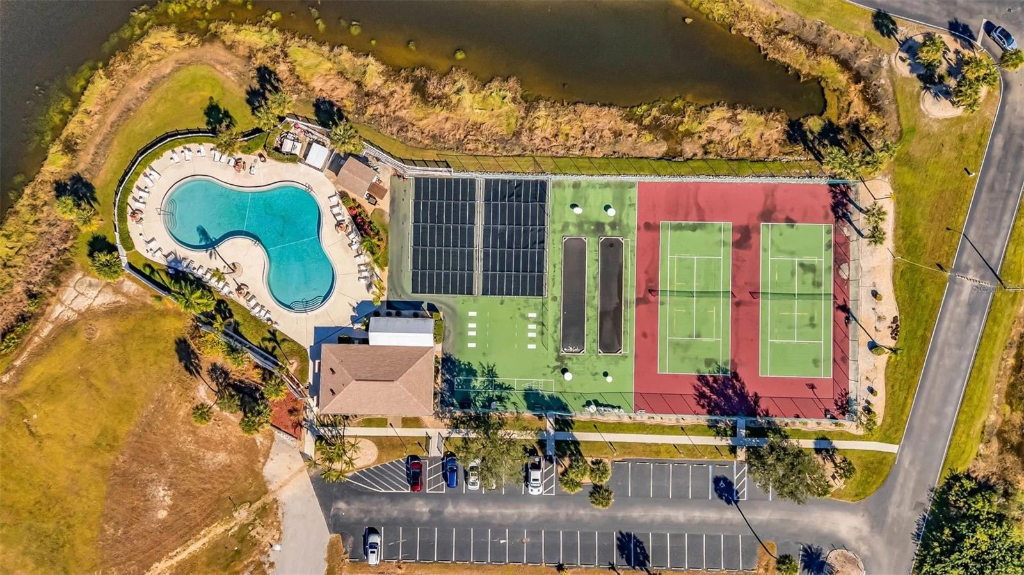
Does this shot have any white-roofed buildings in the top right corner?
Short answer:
No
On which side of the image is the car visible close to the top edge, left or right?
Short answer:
right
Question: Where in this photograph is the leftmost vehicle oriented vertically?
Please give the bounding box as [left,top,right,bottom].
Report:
[365,534,381,567]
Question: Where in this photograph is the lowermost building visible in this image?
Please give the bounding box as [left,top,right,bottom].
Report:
[319,343,434,417]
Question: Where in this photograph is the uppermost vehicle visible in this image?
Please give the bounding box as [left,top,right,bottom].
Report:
[988,24,1018,51]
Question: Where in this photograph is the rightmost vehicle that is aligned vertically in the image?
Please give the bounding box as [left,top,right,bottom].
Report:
[528,456,544,496]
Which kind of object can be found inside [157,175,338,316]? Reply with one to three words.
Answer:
swimming pool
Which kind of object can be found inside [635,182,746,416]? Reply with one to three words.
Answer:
tennis court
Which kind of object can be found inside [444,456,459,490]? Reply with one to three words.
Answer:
car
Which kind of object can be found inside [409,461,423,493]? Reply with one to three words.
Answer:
car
